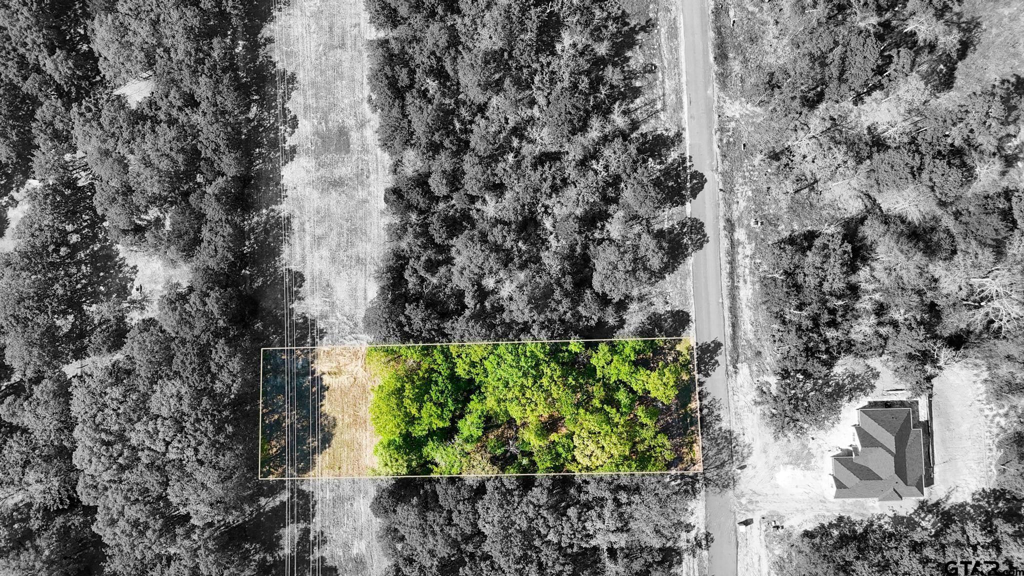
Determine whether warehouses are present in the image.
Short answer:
No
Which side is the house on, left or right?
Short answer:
right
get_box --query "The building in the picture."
[829,408,924,501]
